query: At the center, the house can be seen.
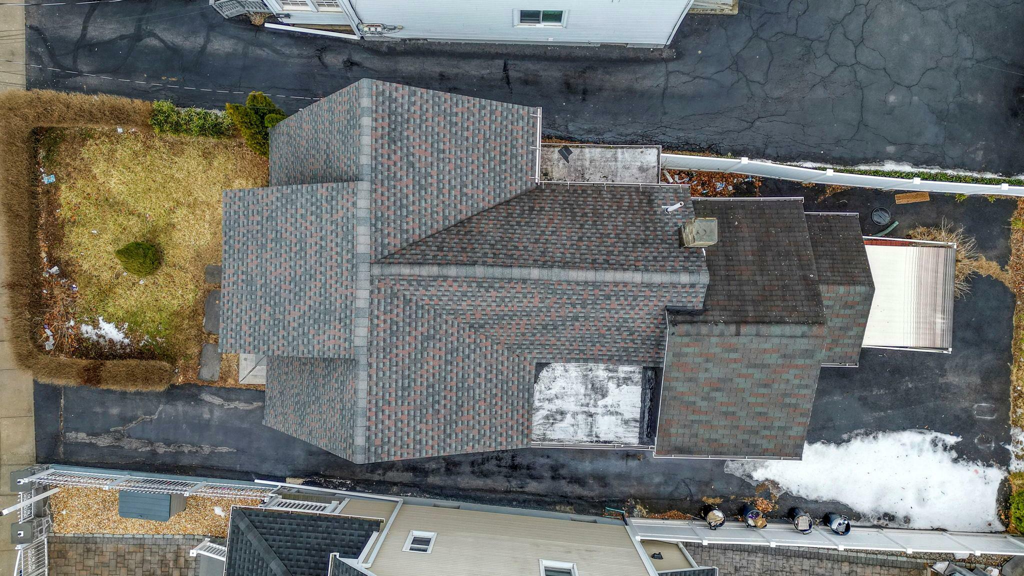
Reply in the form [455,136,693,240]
[218,78,959,465]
